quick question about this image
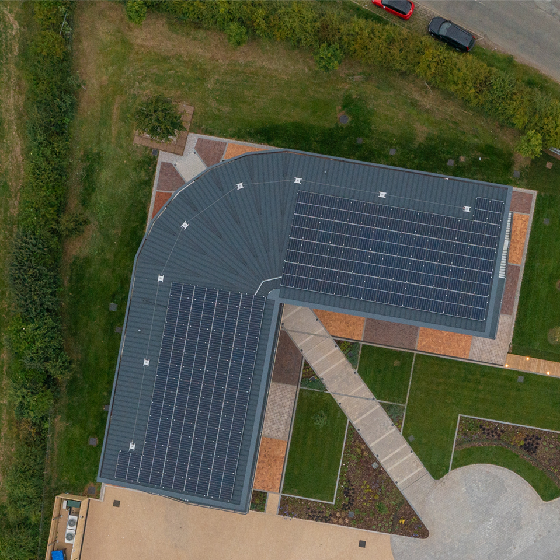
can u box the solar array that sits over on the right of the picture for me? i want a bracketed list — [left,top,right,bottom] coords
[281,190,503,319]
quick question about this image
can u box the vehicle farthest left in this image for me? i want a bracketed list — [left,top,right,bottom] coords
[371,0,419,25]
